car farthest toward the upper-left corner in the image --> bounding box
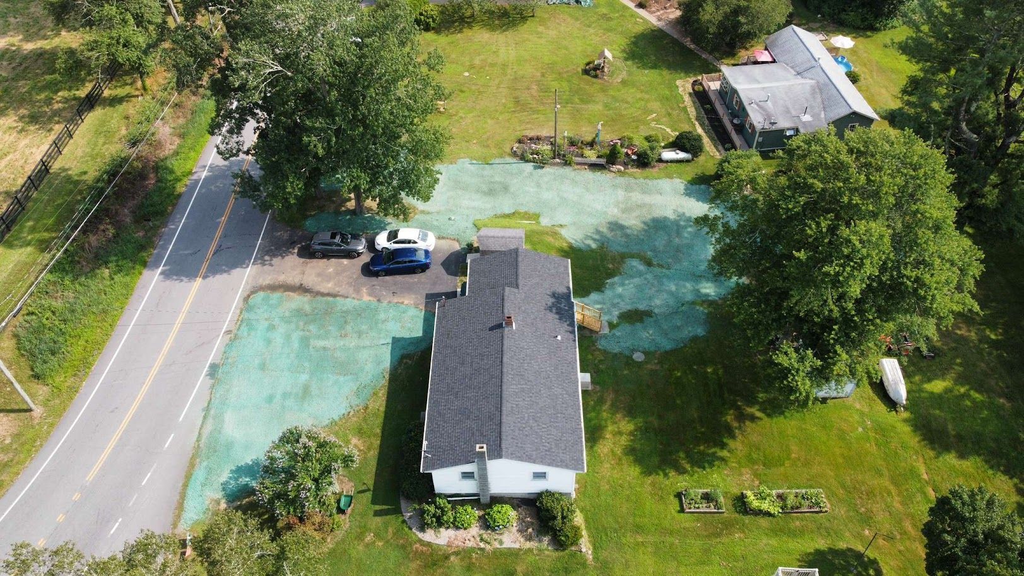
[305,229,367,260]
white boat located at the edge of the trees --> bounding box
[875,358,907,407]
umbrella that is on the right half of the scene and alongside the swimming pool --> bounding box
[828,37,856,55]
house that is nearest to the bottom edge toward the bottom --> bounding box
[417,247,588,505]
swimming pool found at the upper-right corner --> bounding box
[832,57,861,75]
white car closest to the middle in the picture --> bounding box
[372,225,435,252]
